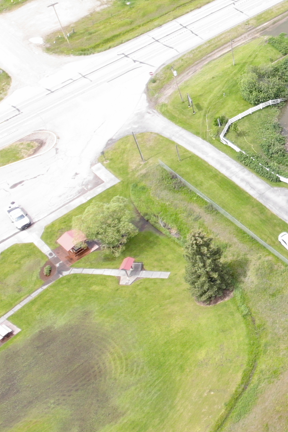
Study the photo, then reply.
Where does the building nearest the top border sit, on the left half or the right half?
left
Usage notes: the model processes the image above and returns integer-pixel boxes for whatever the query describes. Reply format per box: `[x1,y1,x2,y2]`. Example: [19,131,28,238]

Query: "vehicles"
[274,227,288,249]
[0,200,29,228]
